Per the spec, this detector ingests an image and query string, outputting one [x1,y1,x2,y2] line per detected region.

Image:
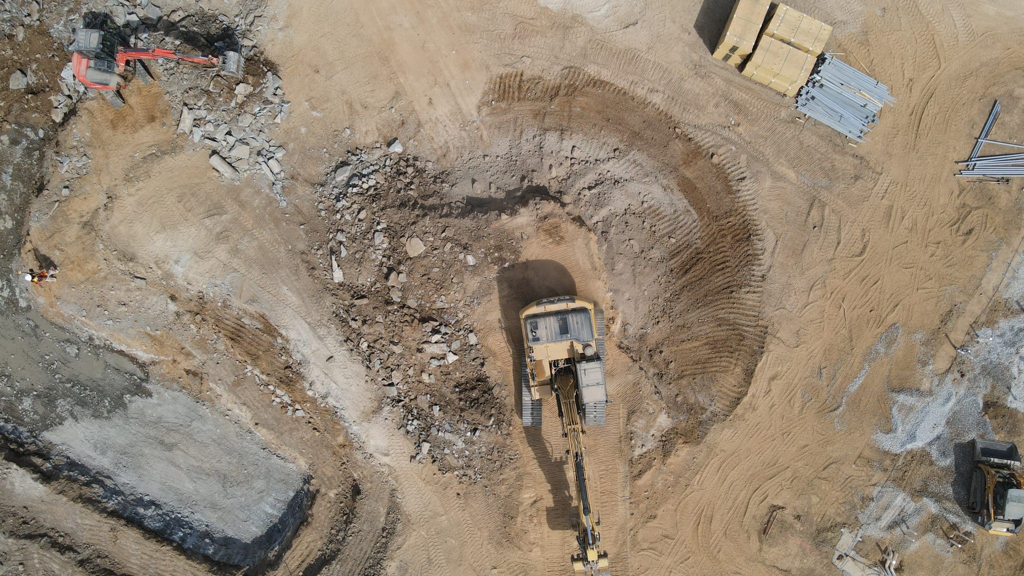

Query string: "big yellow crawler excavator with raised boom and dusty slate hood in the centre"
[520,296,614,576]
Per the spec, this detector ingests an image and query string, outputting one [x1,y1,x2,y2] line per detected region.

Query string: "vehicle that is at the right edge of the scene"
[964,436,1024,536]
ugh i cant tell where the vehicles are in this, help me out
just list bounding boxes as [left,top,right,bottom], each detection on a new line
[520,296,614,576]
[964,436,1024,536]
[73,29,246,109]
